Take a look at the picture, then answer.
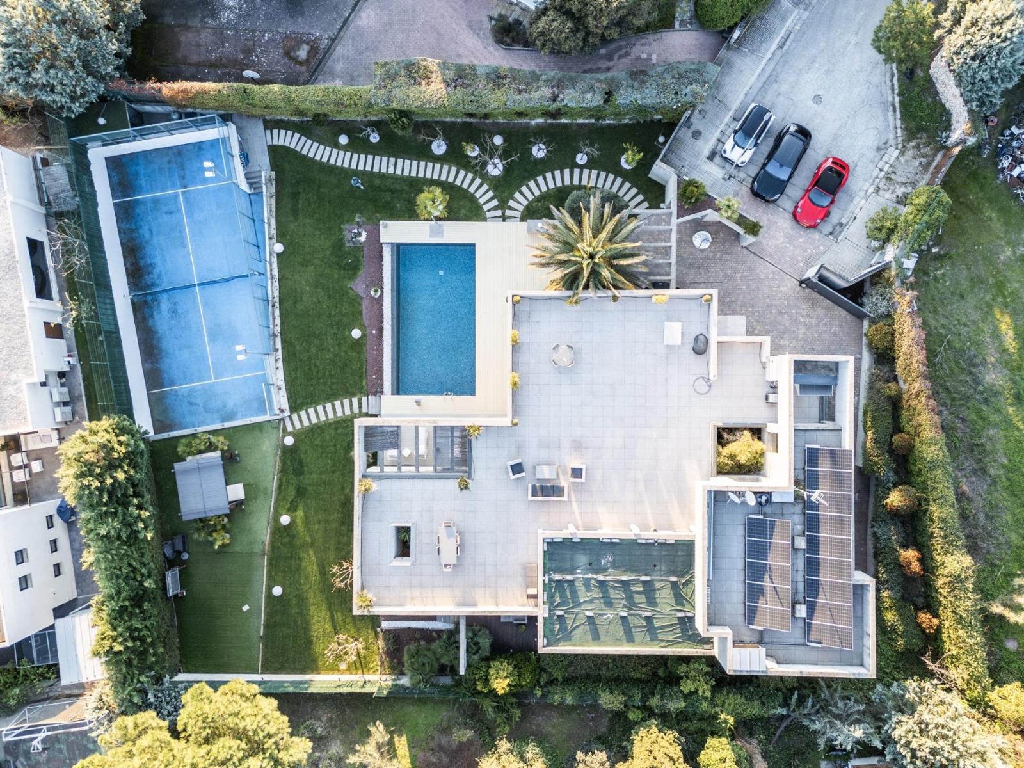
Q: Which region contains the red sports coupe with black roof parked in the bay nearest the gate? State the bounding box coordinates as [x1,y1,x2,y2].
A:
[793,157,847,230]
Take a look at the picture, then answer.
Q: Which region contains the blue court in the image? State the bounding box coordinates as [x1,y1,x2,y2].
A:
[110,141,279,433]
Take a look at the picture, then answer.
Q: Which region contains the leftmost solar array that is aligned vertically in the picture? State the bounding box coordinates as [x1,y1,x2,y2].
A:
[744,513,791,633]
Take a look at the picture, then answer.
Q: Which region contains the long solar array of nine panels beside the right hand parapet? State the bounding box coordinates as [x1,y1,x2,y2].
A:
[804,443,853,651]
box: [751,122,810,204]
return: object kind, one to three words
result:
car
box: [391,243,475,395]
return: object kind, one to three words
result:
swimming pool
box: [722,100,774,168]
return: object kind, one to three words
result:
car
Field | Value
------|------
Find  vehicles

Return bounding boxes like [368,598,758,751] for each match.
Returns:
[793,157,847,230]
[722,100,774,168]
[751,122,810,204]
